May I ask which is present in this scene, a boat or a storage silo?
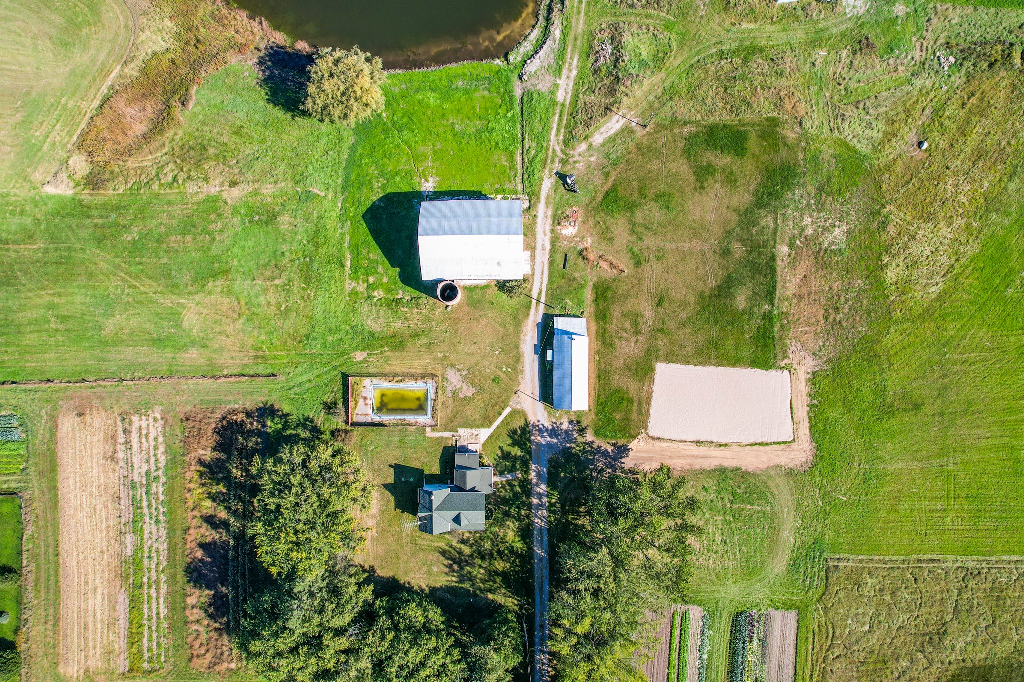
storage silo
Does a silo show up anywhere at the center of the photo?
Yes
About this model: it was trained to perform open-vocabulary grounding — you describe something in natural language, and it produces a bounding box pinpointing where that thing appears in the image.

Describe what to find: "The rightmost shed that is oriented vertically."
[547,318,588,411]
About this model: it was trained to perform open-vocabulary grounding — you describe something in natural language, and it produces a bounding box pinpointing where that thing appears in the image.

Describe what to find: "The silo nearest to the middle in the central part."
[436,280,464,306]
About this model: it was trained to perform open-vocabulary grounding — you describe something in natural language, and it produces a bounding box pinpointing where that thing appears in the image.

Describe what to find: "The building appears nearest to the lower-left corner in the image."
[417,452,494,535]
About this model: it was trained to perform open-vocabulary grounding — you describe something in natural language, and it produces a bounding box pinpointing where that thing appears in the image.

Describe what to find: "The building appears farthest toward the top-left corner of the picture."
[418,200,524,281]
